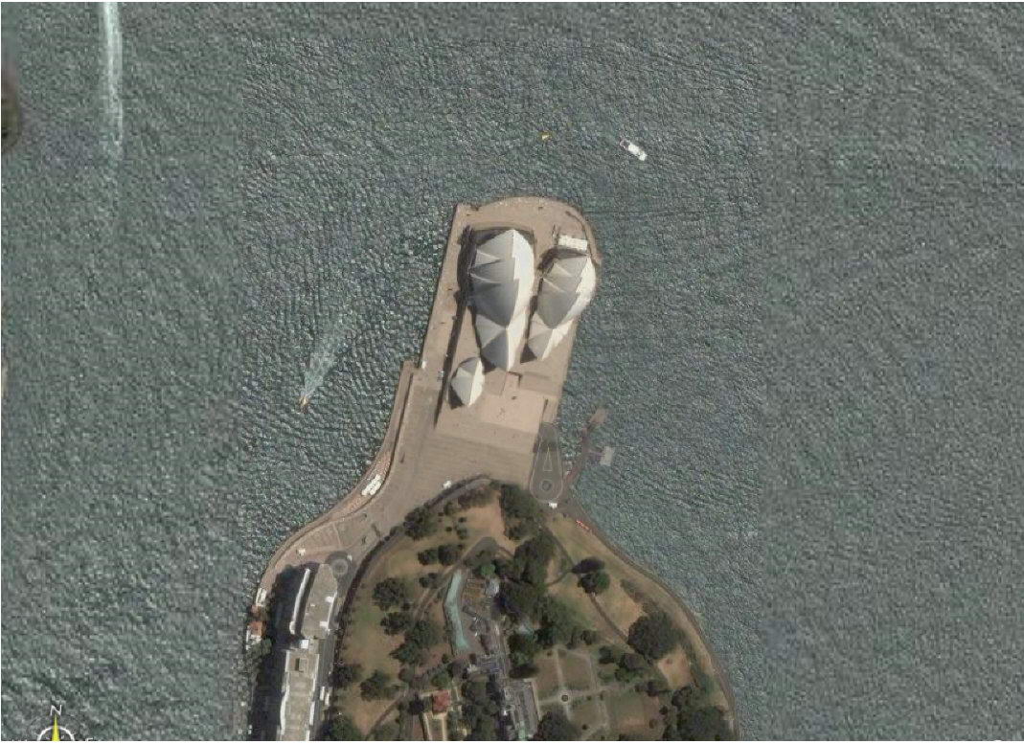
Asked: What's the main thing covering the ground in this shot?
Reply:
water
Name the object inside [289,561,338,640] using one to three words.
building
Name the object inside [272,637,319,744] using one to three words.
building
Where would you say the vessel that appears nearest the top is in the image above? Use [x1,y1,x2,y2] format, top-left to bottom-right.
[619,136,647,160]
